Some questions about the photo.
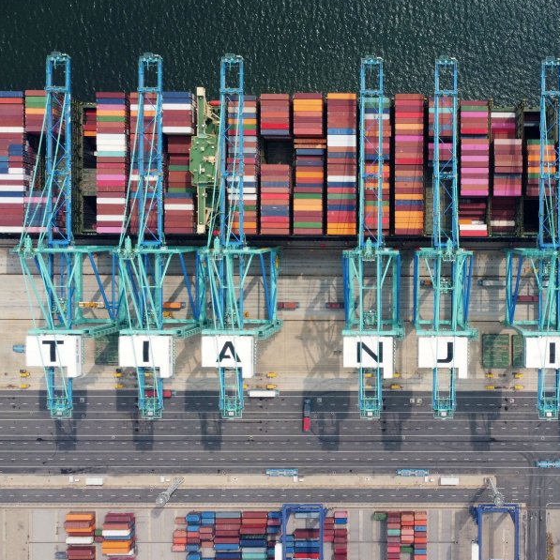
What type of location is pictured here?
port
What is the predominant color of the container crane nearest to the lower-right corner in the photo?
blue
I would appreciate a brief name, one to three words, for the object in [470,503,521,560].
container crane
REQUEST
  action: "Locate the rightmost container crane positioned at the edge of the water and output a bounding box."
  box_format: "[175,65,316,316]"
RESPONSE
[499,55,560,419]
